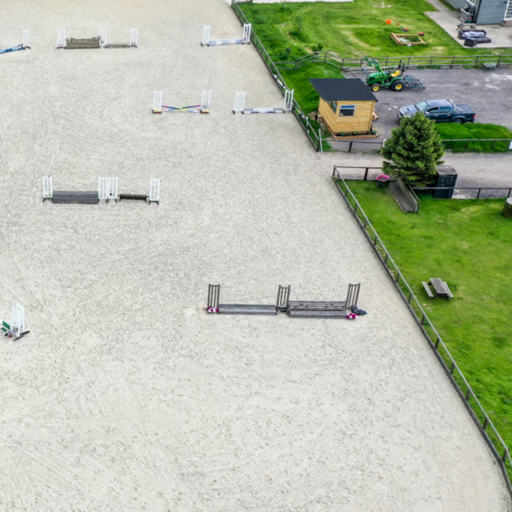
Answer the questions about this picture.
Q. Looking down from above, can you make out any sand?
Yes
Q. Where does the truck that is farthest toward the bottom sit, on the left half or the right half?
right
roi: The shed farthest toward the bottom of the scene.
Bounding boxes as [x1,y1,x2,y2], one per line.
[310,78,387,132]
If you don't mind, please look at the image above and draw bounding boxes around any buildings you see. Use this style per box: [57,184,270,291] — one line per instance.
[310,78,387,132]
[447,0,512,25]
